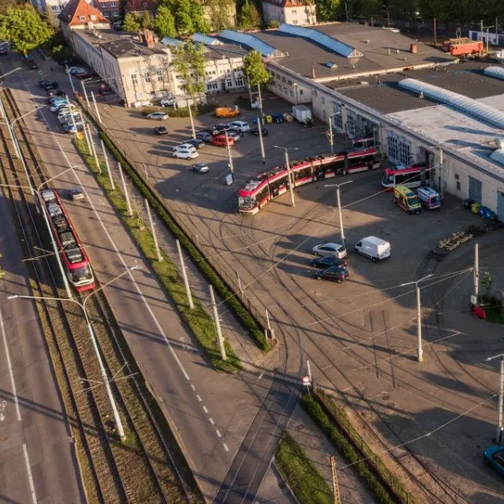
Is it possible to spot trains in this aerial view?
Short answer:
Yes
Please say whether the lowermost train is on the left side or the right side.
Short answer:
left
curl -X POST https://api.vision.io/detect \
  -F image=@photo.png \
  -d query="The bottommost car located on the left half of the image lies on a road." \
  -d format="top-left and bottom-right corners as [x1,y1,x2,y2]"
[69,184,84,197]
